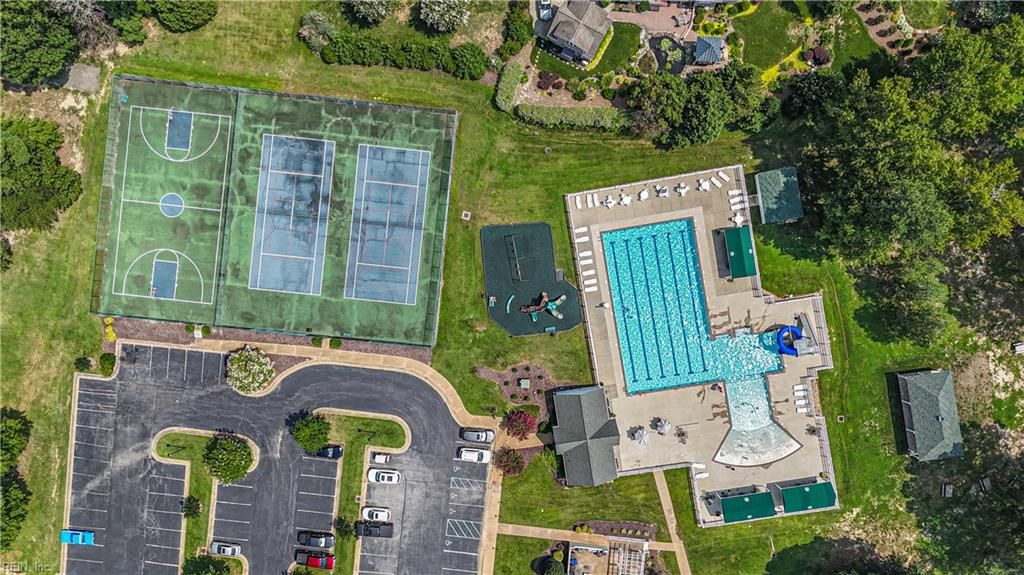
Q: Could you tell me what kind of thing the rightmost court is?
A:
tennis court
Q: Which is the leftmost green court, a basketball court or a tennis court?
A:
basketball court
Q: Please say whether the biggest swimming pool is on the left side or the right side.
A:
right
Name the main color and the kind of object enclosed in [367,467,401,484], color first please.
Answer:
white car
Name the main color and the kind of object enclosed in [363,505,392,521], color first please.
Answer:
white car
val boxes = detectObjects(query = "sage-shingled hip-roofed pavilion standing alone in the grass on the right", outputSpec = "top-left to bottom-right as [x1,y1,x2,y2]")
[897,368,964,461]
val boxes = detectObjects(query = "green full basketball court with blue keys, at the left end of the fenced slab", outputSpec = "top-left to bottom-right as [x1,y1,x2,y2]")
[102,80,244,323]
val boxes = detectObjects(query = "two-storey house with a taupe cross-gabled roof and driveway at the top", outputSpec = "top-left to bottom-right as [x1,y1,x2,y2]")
[544,0,623,71]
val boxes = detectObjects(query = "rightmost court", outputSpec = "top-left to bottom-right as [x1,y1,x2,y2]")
[331,104,458,345]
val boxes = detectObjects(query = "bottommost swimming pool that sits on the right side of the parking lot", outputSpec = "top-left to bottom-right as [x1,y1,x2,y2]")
[588,204,822,477]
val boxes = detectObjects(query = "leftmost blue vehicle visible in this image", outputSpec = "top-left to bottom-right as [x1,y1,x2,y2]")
[60,528,98,547]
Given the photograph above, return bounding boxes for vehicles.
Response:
[312,445,343,460]
[363,505,392,521]
[462,428,495,445]
[295,551,335,570]
[356,519,394,537]
[538,0,554,22]
[374,452,390,464]
[213,539,242,555]
[367,467,401,484]
[60,528,98,547]
[458,446,491,464]
[297,530,336,549]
